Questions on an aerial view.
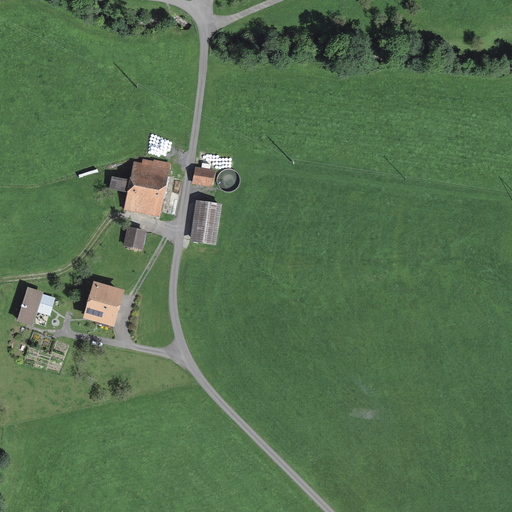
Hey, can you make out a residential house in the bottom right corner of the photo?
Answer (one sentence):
No, I see no residential house in the bottom right corner of the photo.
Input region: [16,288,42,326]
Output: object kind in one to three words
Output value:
house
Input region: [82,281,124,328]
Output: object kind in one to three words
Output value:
house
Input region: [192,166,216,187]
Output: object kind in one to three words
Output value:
shed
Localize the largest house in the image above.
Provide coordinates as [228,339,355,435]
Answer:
[123,160,170,217]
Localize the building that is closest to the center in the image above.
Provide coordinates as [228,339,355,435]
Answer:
[190,200,222,245]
